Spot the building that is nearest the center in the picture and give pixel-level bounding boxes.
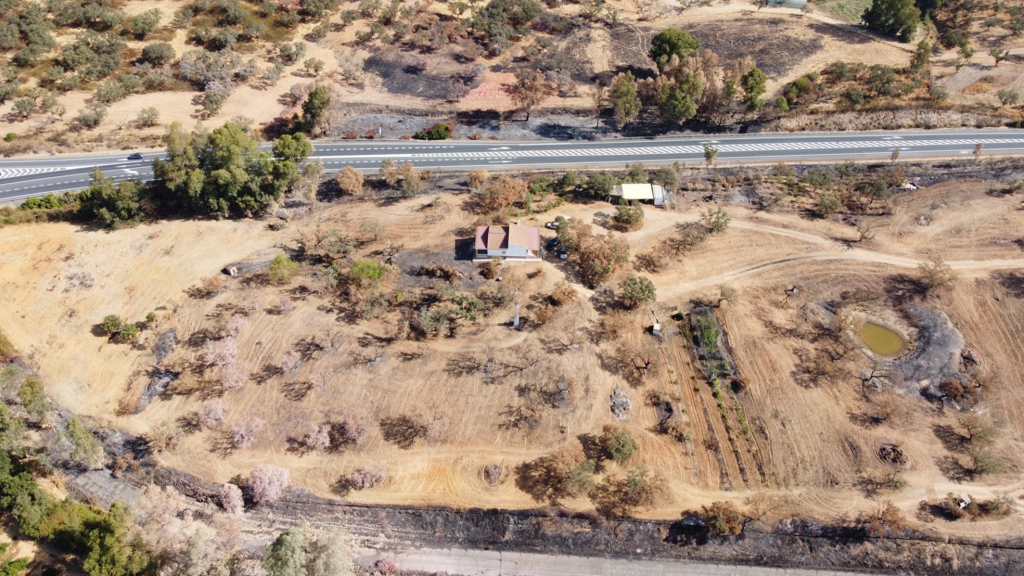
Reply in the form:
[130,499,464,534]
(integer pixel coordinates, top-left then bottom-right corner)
[474,217,542,260]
